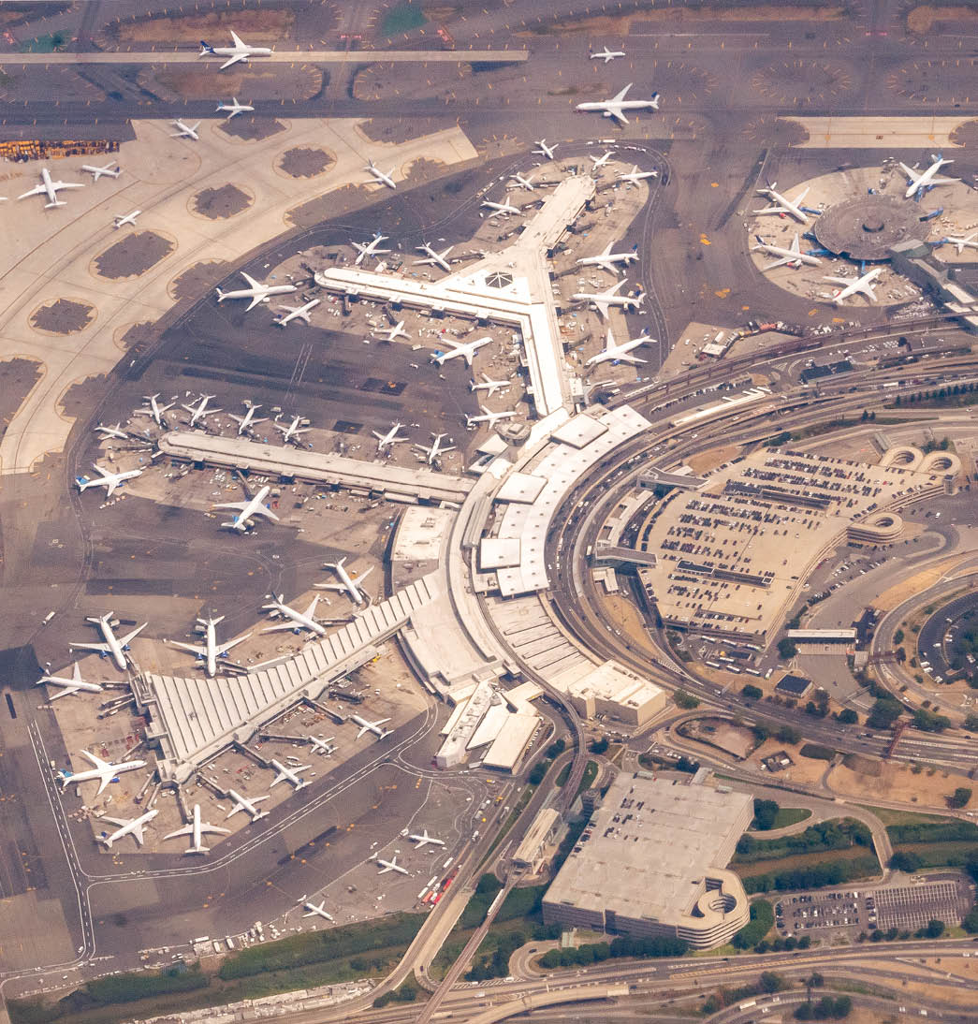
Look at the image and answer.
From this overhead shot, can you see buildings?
Yes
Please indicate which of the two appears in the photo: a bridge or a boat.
bridge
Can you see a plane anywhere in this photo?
Yes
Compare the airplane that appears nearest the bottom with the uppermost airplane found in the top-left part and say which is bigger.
the uppermost airplane found in the top-left part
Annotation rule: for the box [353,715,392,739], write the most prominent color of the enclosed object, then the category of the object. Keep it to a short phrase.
white airplane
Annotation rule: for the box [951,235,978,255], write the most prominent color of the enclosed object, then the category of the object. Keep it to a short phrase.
white airplane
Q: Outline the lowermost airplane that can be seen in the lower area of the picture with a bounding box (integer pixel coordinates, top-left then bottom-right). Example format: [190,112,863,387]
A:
[303,896,332,920]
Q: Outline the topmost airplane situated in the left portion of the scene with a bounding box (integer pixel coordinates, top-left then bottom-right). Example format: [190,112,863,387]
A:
[201,32,272,69]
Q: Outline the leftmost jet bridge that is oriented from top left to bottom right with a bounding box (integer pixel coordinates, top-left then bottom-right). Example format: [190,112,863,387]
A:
[122,652,139,673]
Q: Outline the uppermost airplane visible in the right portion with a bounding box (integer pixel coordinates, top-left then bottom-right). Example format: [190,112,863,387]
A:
[588,44,625,64]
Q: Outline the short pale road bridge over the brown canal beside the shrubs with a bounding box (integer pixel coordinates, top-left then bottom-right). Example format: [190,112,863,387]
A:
[863,825,897,877]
